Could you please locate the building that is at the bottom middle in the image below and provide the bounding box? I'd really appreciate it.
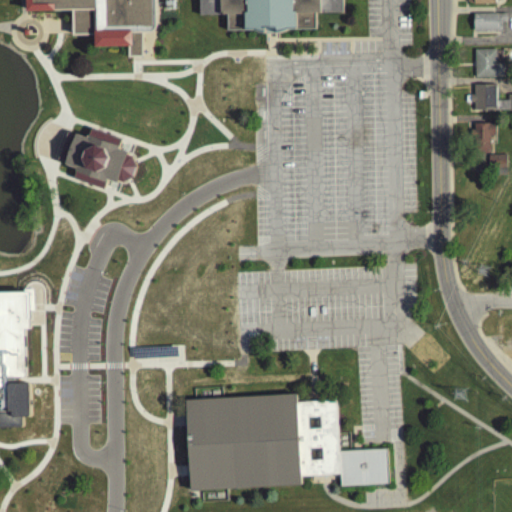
[186,394,390,488]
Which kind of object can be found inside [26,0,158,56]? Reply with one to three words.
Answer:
building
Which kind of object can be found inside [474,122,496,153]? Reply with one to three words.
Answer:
house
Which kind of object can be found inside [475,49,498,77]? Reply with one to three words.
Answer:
house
